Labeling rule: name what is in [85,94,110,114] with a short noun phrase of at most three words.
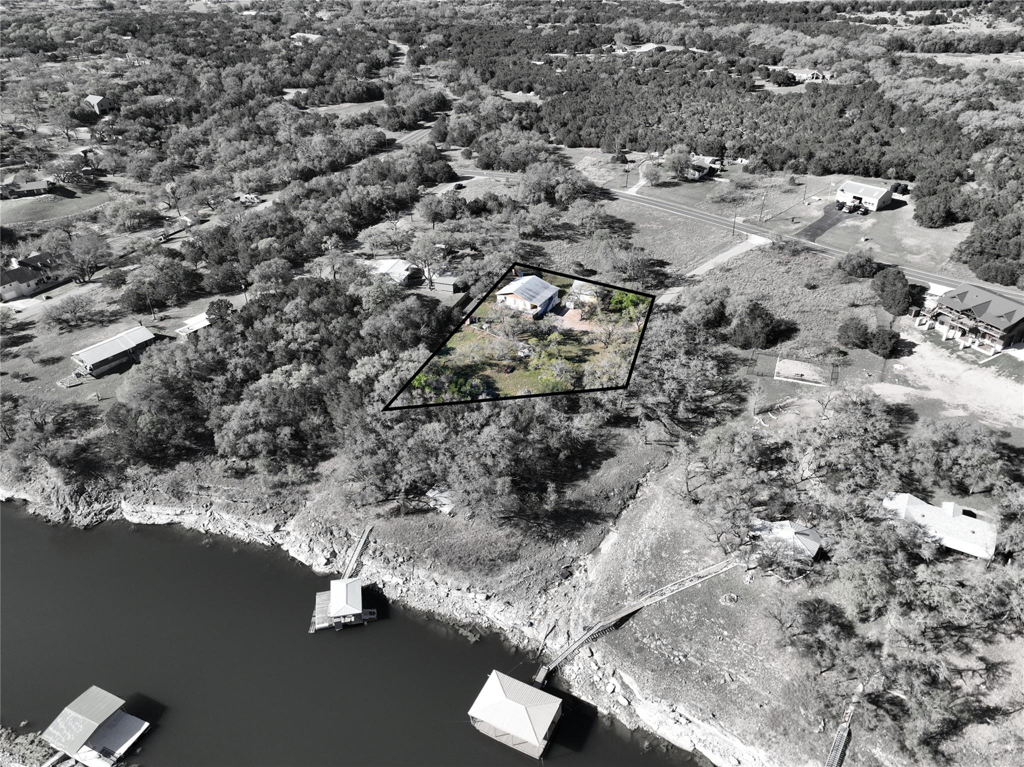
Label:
barn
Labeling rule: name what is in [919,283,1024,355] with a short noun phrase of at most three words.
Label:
building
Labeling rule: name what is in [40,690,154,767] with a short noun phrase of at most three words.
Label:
building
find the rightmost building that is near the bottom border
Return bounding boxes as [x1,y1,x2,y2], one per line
[467,670,560,764]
